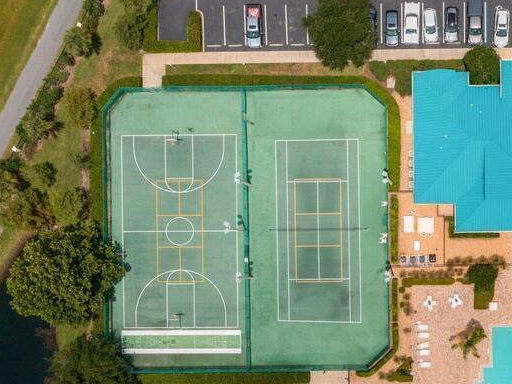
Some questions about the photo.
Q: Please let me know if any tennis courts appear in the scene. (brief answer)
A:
Yes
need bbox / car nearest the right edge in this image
[494,7,510,48]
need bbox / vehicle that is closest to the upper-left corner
[245,4,263,49]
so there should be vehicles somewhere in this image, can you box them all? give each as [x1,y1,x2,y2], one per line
[385,10,400,47]
[444,7,459,44]
[467,0,484,46]
[366,7,379,43]
[424,8,439,44]
[245,4,263,49]
[494,7,510,48]
[403,2,420,45]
